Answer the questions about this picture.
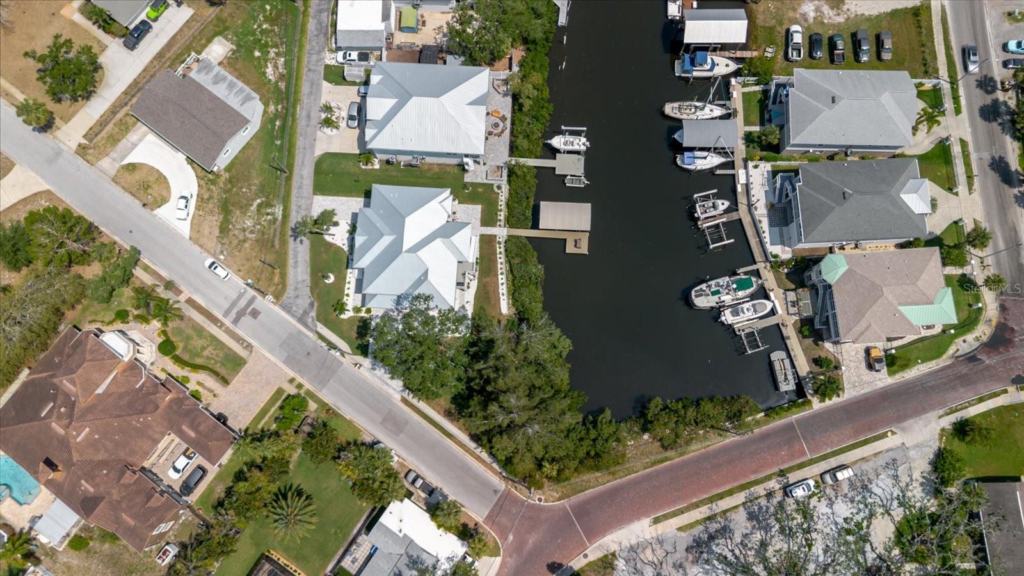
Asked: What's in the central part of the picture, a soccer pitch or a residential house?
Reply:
residential house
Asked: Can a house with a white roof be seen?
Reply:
Yes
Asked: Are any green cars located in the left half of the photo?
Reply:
Yes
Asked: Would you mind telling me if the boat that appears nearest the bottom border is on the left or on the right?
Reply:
left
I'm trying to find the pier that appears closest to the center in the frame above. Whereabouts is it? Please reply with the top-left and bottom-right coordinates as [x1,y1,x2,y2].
[481,227,590,257]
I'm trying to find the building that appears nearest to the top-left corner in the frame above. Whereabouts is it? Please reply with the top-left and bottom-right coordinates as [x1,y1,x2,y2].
[93,0,153,29]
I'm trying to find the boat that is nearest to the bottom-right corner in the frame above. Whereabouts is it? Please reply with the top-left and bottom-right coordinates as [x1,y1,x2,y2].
[768,351,795,396]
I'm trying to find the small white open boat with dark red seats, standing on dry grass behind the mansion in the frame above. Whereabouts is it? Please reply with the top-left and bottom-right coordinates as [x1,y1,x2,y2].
[153,543,180,566]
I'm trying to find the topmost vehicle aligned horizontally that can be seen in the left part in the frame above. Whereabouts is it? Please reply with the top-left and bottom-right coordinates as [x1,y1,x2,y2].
[337,50,371,65]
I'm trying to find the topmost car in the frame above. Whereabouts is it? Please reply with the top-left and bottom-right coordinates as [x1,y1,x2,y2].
[146,0,170,22]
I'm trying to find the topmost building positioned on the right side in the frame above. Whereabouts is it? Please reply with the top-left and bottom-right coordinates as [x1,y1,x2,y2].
[677,9,748,57]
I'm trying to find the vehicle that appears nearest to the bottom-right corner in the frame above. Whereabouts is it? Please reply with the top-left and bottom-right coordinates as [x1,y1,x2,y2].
[820,465,854,483]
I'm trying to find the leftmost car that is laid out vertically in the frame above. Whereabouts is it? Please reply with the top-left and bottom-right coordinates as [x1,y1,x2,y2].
[177,192,192,220]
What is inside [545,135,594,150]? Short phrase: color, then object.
white boat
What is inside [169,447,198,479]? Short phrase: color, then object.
white truck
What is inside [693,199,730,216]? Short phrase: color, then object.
white boat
